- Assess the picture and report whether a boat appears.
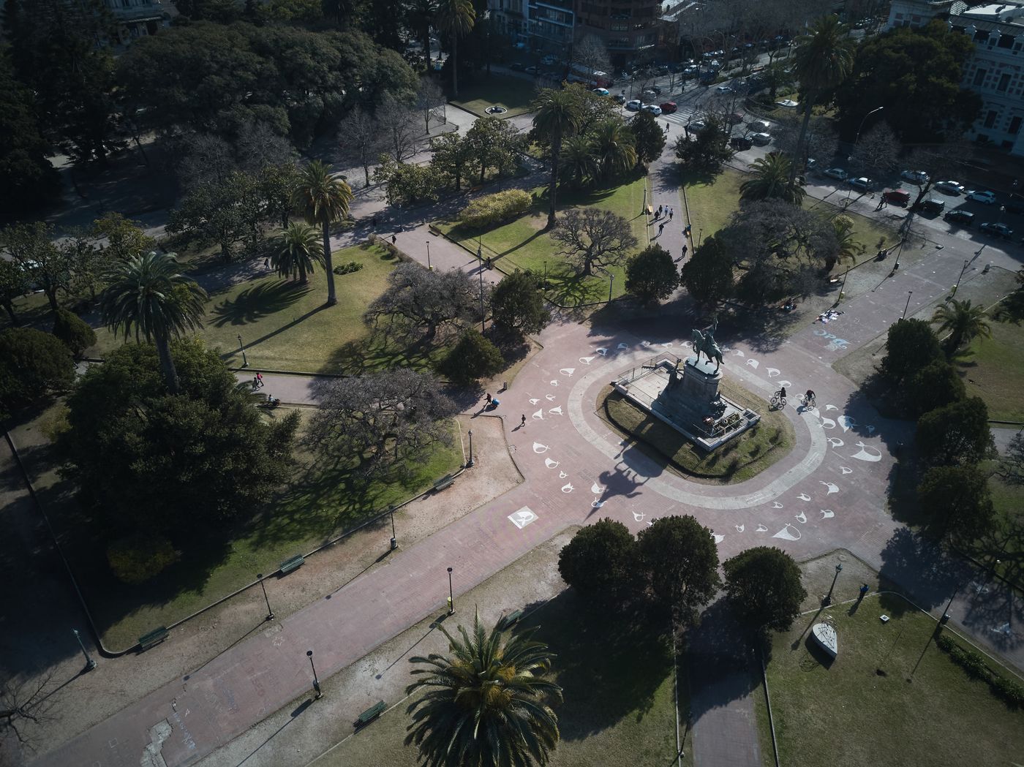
Yes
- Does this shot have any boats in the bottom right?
Yes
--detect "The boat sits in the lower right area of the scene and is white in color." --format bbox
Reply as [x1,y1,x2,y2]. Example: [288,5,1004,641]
[812,623,838,656]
